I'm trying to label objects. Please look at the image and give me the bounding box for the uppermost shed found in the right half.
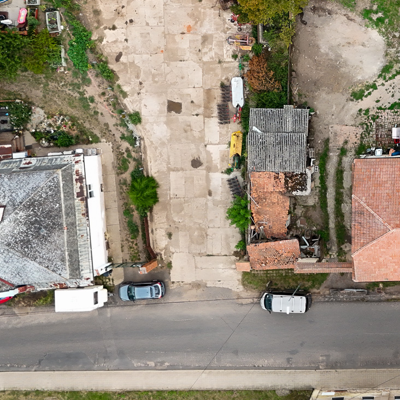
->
[247,105,310,173]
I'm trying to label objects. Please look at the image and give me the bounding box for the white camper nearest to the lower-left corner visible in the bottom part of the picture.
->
[46,287,114,317]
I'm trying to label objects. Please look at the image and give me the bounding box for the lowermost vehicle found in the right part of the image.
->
[260,292,310,319]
